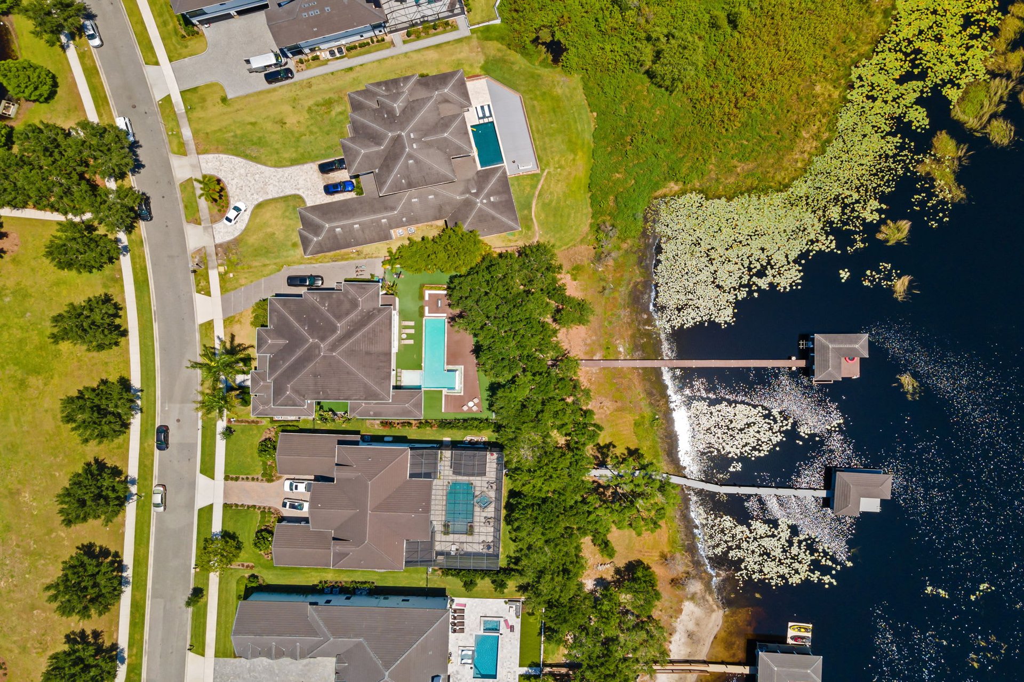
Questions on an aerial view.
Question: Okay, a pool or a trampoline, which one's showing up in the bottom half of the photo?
pool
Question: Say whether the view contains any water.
Yes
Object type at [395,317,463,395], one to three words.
swimming pool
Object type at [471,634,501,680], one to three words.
swimming pool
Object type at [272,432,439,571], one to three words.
house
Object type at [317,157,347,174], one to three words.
car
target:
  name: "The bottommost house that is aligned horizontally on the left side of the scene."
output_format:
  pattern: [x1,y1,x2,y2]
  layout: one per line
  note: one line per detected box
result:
[232,591,455,682]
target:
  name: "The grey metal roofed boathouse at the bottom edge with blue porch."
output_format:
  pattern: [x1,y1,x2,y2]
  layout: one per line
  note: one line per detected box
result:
[745,640,824,682]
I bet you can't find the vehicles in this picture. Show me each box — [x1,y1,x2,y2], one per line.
[282,497,308,513]
[240,51,285,71]
[83,18,104,49]
[317,157,347,174]
[263,66,295,84]
[115,114,136,144]
[285,479,320,494]
[153,424,170,451]
[323,180,355,195]
[287,272,323,288]
[221,199,249,228]
[137,193,153,222]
